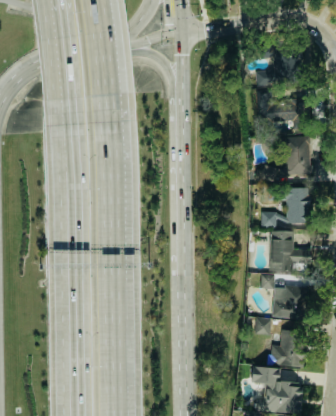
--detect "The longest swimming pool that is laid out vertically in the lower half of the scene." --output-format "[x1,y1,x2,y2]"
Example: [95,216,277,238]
[256,244,268,269]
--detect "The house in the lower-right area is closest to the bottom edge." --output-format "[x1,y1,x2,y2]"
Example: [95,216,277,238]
[252,367,304,414]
